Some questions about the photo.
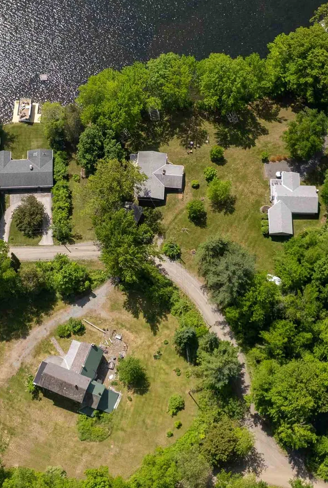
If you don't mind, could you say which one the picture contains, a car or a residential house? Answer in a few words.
residential house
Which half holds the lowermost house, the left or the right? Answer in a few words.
left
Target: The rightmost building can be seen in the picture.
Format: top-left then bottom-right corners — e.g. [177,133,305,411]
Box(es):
[267,172,316,237]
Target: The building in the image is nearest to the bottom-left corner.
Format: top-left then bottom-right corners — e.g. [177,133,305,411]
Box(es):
[34,340,123,417]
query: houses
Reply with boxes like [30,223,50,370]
[131,151,183,204]
[0,149,53,190]
[267,172,316,237]
[34,340,123,417]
